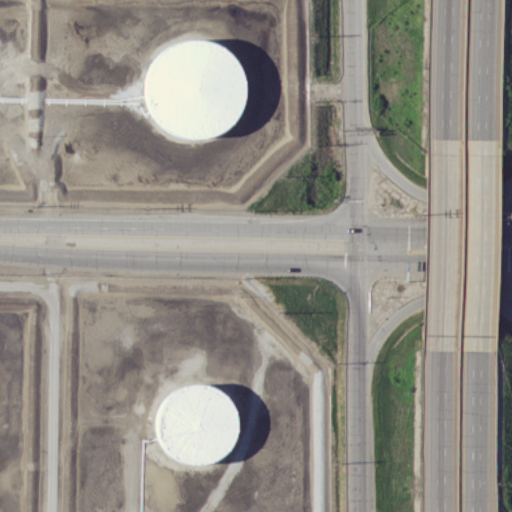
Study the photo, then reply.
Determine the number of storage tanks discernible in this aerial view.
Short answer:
two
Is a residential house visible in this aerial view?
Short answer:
No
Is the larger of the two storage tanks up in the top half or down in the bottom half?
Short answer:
top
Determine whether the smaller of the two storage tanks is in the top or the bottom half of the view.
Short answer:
bottom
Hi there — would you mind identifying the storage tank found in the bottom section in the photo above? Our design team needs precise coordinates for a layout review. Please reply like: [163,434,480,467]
[154,384,240,467]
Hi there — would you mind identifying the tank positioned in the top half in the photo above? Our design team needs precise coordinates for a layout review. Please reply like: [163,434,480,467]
[144,40,250,142]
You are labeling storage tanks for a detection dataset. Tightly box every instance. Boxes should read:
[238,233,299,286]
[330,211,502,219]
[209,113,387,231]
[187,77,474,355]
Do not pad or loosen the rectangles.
[154,384,240,467]
[144,40,250,142]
